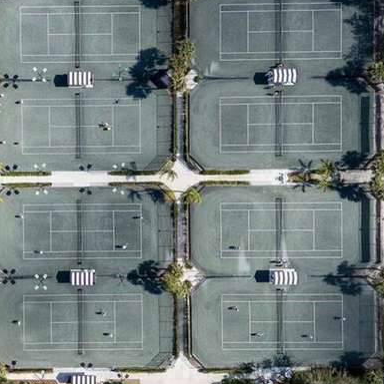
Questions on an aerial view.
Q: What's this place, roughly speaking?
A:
sports ground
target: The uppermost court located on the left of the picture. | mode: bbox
[0,0,173,80]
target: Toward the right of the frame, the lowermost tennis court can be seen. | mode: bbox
[191,278,376,368]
